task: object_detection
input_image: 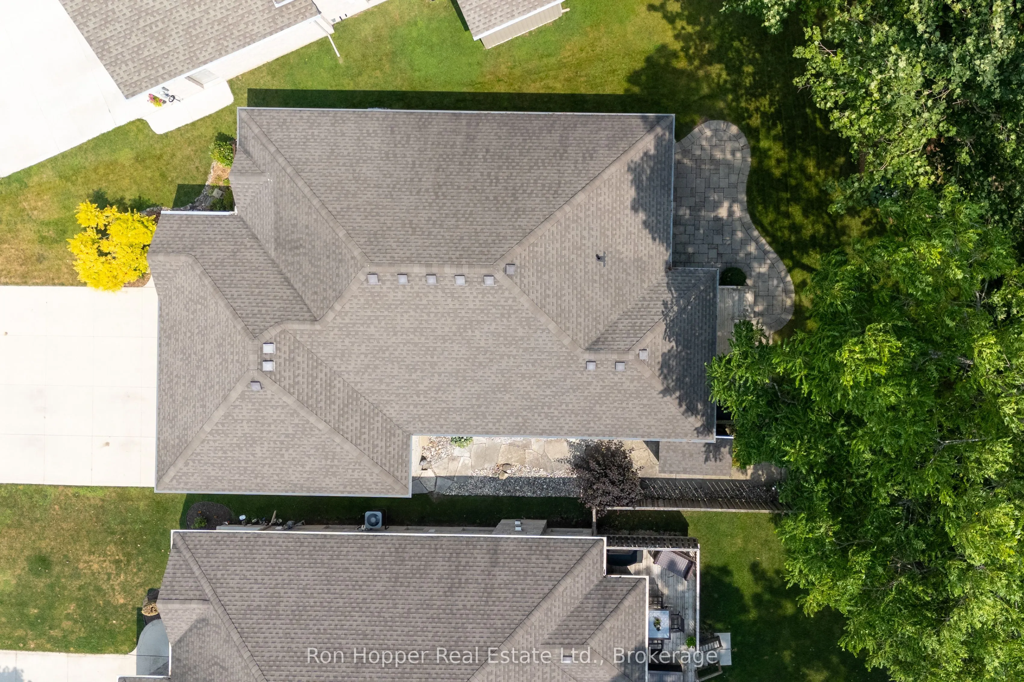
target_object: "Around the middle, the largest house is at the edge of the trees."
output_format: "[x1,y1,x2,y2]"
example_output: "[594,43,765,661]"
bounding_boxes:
[146,105,719,500]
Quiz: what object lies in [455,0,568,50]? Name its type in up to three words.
shed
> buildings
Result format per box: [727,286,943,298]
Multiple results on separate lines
[60,0,389,102]
[115,517,651,682]
[455,0,568,50]
[146,105,719,500]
